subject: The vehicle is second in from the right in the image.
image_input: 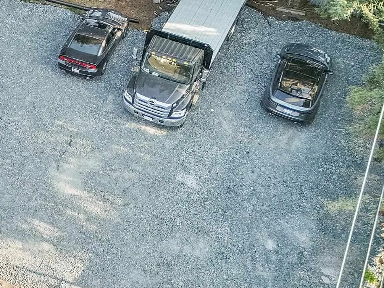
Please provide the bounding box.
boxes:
[125,0,246,127]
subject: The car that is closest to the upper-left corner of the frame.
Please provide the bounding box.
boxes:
[56,9,131,83]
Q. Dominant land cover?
paved ground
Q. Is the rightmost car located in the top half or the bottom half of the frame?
top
